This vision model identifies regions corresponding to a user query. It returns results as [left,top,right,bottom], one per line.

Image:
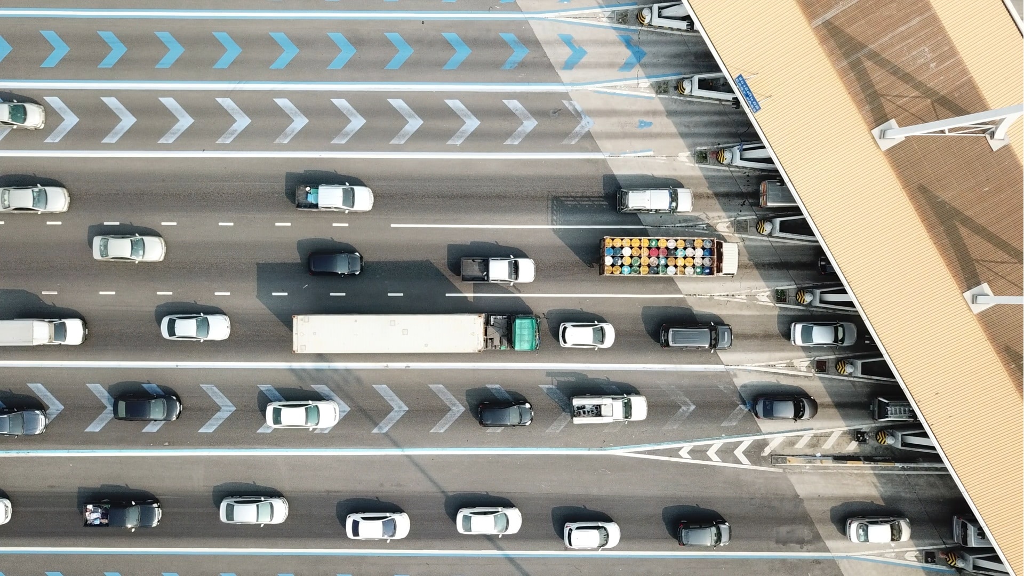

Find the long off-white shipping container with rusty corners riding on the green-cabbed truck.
[293,313,485,353]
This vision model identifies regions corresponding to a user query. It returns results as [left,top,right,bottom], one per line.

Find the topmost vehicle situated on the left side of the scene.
[0,99,48,131]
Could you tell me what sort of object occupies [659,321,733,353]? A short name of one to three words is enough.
car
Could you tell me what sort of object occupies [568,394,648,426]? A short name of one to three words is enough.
truck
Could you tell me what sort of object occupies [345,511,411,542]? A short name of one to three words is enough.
car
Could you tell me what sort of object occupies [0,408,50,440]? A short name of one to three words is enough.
truck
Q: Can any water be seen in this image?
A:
No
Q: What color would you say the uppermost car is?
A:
white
